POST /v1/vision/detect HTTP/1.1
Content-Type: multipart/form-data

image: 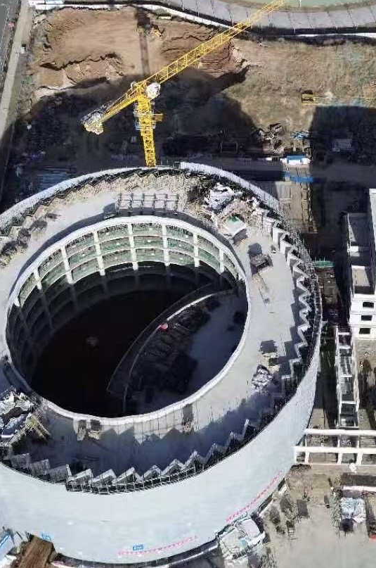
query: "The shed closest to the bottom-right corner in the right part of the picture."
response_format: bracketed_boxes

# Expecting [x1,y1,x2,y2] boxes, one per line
[218,511,272,563]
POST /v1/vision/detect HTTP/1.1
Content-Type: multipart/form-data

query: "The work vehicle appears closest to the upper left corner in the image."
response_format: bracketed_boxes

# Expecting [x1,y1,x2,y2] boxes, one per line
[141,20,164,35]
